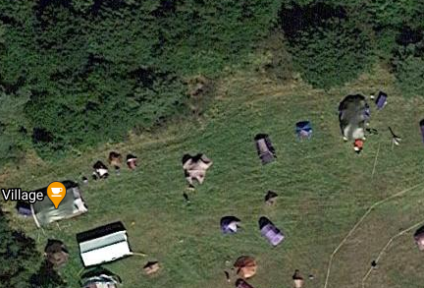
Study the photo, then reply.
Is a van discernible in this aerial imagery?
No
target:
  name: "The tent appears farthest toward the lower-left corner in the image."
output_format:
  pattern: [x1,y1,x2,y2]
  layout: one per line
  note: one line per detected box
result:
[42,243,68,265]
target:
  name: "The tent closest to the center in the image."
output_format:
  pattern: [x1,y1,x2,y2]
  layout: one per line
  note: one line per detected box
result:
[181,155,212,183]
